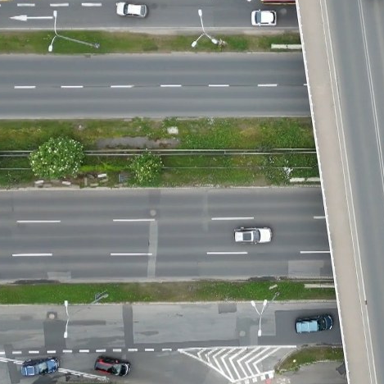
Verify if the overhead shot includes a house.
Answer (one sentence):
No, no house can be seen from above.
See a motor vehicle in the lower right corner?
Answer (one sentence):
Yes, looking in the lower right corner, one can make out a motor vehicle.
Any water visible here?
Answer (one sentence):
No, water can't be seen anywhere here.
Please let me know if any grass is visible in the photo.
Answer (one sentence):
Yes, some grass is visible.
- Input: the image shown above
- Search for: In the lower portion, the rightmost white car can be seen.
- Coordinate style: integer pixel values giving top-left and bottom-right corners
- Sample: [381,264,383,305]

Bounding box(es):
[233,225,272,245]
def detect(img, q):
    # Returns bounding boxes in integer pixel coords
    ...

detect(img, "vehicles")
[260,0,296,5]
[93,354,131,377]
[19,355,60,377]
[233,225,272,245]
[116,2,148,18]
[251,9,276,27]
[294,313,334,333]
